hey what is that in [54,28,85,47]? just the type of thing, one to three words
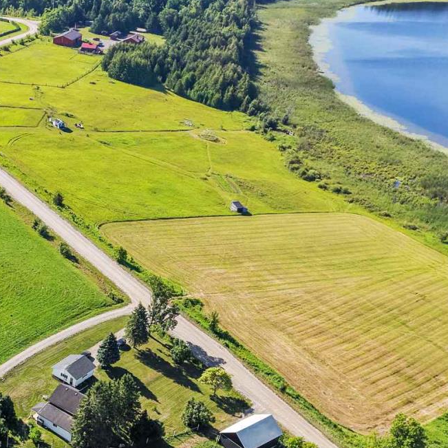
barn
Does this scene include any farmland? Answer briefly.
Yes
